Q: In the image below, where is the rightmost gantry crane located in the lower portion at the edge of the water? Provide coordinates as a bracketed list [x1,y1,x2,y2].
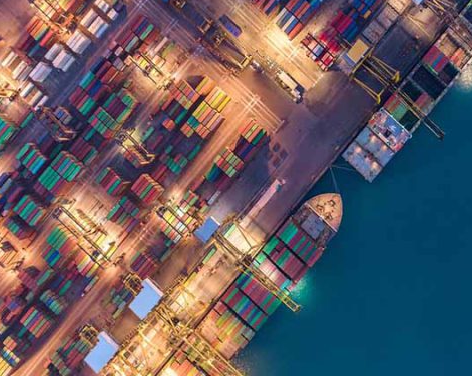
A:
[192,206,304,309]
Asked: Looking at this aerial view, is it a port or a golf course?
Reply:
port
